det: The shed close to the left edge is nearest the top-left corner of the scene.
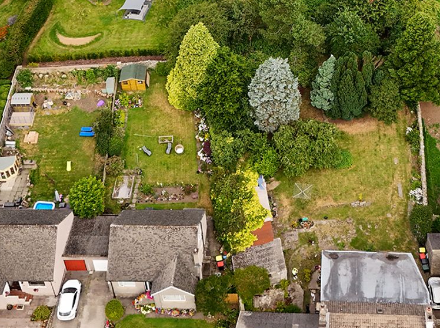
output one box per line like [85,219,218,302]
[6,93,36,134]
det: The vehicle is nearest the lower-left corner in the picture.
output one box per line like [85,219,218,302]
[55,282,83,325]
